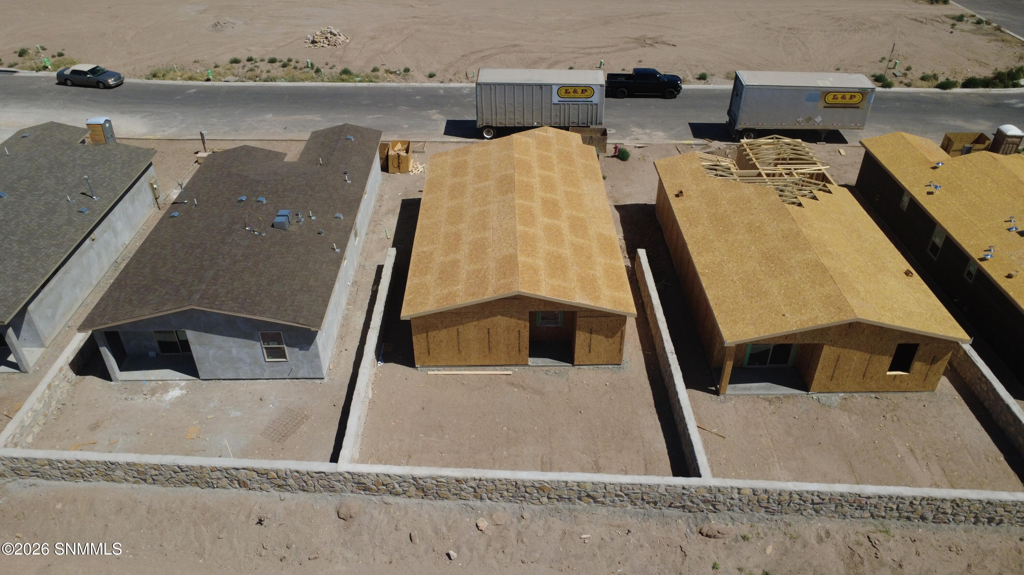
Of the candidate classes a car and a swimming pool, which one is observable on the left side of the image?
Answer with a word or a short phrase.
car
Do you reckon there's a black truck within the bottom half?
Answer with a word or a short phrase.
No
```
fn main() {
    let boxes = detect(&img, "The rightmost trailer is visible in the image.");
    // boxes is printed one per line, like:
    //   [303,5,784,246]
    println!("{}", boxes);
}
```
[728,72,878,140]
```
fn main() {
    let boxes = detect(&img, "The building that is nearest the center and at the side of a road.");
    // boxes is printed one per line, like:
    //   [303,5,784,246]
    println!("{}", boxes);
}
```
[400,126,637,370]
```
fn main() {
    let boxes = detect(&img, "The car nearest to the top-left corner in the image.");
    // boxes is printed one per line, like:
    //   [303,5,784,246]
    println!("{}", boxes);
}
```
[55,62,126,88]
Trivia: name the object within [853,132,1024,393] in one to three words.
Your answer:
house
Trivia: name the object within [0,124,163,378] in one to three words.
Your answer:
house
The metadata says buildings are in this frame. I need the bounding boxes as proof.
[853,132,1024,393]
[0,124,163,378]
[77,124,383,386]
[400,126,637,370]
[653,138,972,395]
